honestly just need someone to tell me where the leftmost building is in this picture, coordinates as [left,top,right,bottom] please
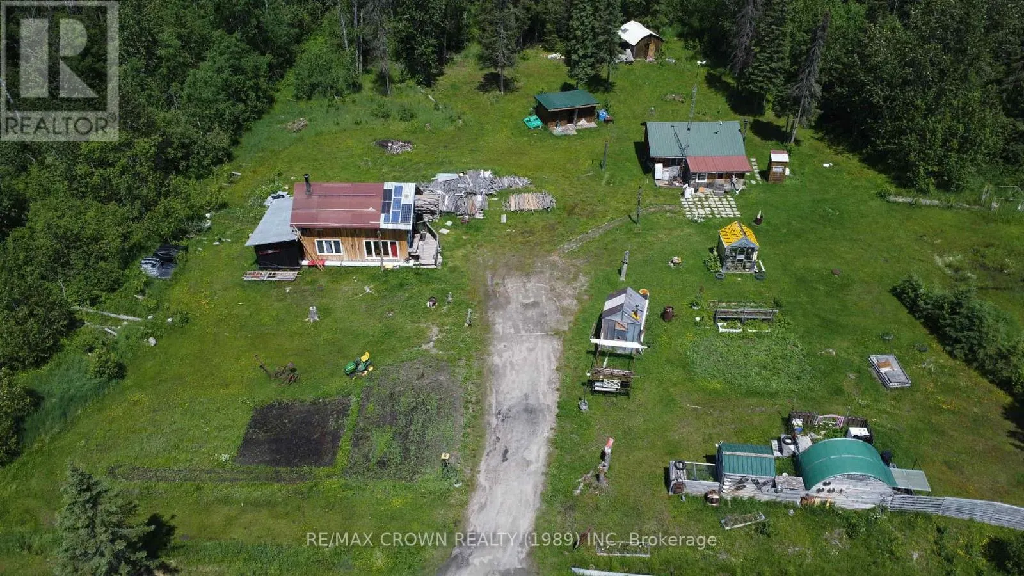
[246,173,417,268]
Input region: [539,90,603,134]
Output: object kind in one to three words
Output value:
shed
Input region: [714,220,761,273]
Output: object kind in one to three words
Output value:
greenhouse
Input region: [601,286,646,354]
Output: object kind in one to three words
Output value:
shed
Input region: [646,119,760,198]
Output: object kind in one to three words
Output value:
house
